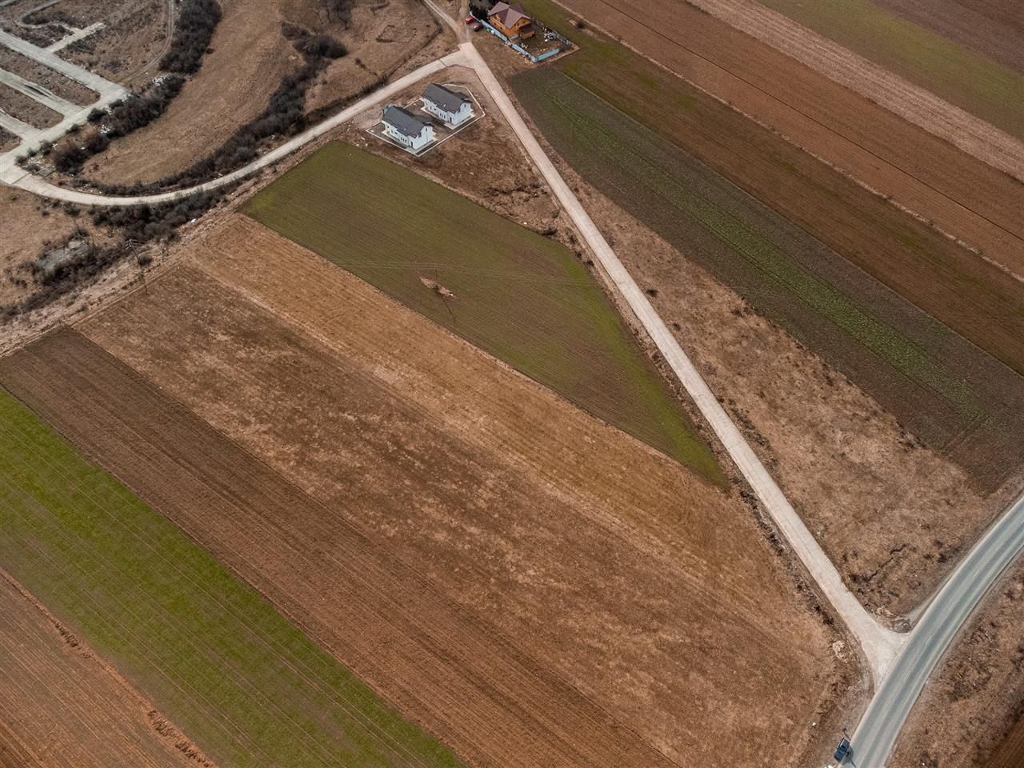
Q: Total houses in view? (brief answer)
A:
three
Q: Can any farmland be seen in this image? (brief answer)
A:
Yes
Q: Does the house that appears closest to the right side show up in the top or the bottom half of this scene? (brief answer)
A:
top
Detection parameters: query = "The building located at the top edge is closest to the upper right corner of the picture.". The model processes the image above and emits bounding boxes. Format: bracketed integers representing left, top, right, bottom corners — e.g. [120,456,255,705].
[490,4,534,41]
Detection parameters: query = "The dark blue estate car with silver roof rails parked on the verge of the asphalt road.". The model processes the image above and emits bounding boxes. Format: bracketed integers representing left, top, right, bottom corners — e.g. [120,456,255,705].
[835,737,853,761]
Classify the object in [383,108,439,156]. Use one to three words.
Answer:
house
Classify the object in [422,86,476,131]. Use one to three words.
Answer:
house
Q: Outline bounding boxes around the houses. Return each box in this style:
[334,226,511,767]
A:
[422,86,476,131]
[383,108,439,156]
[490,4,534,41]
